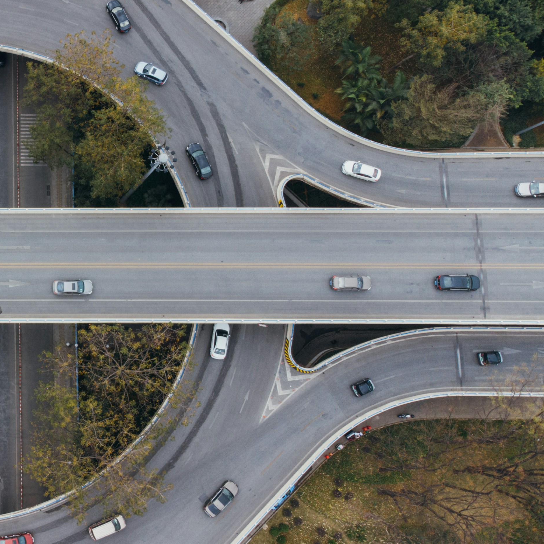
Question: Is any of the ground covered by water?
No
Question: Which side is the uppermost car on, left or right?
left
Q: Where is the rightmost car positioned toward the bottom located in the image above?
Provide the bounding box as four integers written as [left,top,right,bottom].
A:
[476,349,502,366]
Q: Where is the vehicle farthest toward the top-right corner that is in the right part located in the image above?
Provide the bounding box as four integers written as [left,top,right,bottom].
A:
[514,180,544,198]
